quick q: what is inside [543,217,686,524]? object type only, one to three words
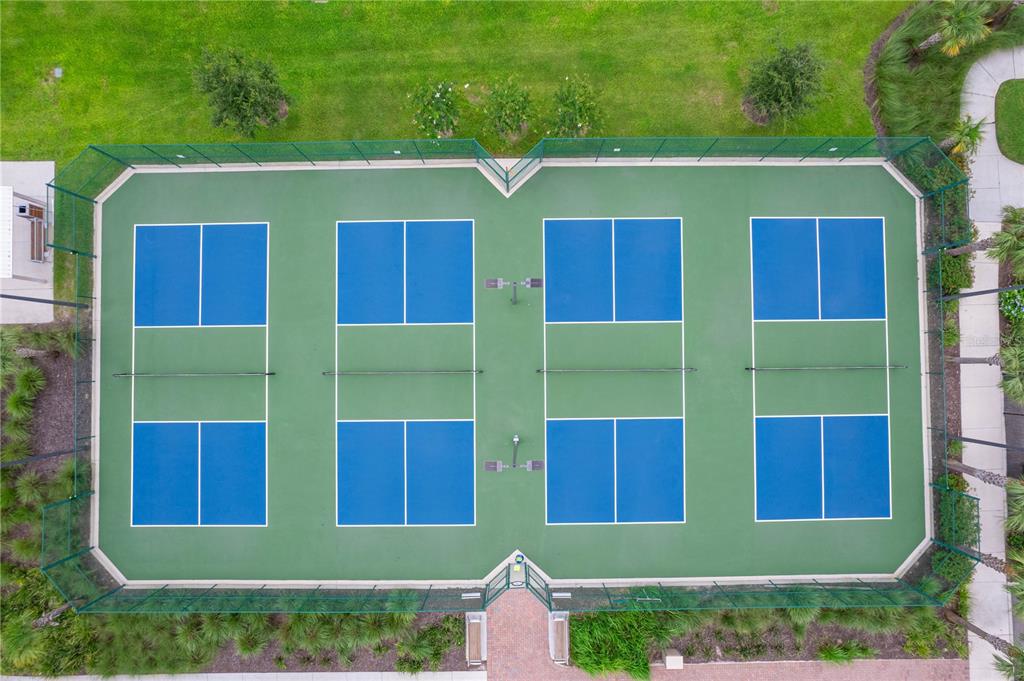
sports court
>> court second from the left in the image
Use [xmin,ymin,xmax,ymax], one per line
[336,220,476,527]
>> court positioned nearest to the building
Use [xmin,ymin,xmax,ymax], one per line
[132,223,268,527]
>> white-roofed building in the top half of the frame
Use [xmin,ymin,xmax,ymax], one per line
[0,187,50,284]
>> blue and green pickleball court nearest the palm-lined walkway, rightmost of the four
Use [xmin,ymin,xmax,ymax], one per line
[750,217,892,521]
